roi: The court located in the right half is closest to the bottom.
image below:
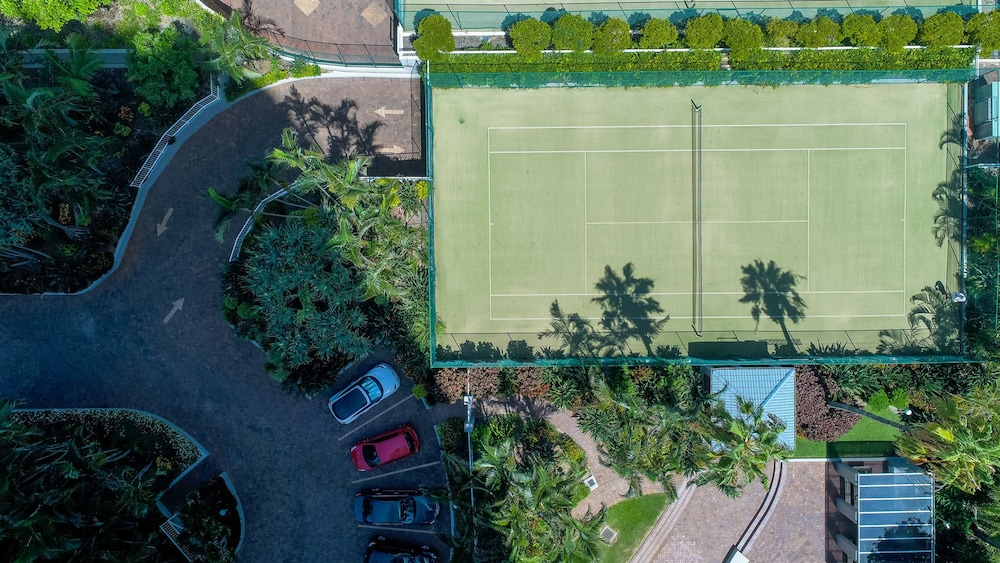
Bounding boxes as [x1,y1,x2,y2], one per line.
[431,82,970,360]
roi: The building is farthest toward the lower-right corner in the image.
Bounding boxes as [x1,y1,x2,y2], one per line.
[835,461,935,563]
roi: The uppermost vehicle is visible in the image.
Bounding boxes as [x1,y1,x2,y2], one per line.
[324,360,404,425]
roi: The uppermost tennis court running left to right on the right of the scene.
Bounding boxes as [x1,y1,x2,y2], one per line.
[404,0,980,31]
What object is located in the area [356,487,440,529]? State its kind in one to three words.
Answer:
car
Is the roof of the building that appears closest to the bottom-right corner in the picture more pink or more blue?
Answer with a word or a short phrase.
blue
